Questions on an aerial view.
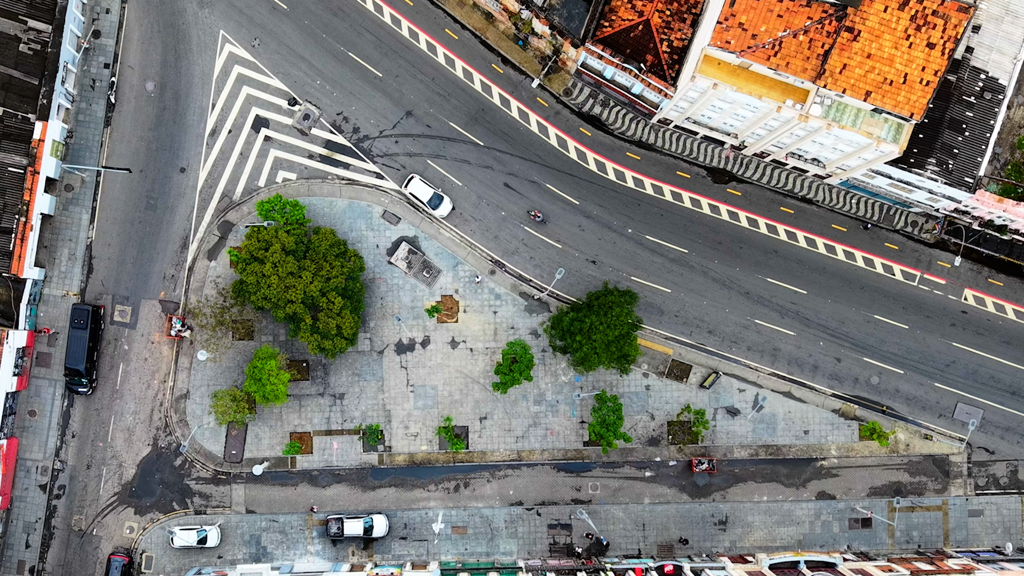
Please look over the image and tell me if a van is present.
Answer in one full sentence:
Yes, there's a van down there.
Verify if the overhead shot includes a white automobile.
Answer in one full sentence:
Yes, the photo shows a white automobile.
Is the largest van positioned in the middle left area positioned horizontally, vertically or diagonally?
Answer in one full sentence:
The largest van positioned in the middle left area is oriented vertically.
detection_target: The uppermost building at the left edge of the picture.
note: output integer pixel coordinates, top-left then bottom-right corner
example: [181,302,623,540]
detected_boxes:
[0,0,86,128]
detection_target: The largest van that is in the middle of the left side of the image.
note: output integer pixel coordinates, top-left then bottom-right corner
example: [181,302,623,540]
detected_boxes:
[60,303,105,395]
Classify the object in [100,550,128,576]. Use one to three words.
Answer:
car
